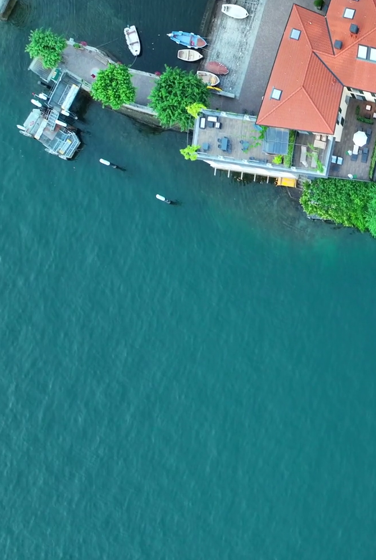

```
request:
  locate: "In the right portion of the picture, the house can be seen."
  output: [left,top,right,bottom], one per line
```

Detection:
[255,0,376,142]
